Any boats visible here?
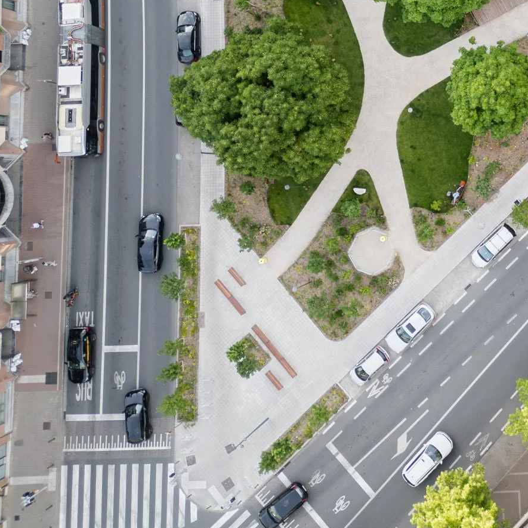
No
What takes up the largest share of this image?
paved ground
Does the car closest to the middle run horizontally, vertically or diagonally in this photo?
vertically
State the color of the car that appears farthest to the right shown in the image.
white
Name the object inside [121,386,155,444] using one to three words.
car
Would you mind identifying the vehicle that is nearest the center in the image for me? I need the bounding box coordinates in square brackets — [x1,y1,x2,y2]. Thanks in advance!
[138,213,167,272]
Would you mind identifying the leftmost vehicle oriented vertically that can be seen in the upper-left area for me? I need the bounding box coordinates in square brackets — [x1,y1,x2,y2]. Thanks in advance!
[55,0,105,163]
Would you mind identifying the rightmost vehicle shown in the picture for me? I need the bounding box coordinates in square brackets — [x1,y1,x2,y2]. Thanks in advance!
[470,220,520,269]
